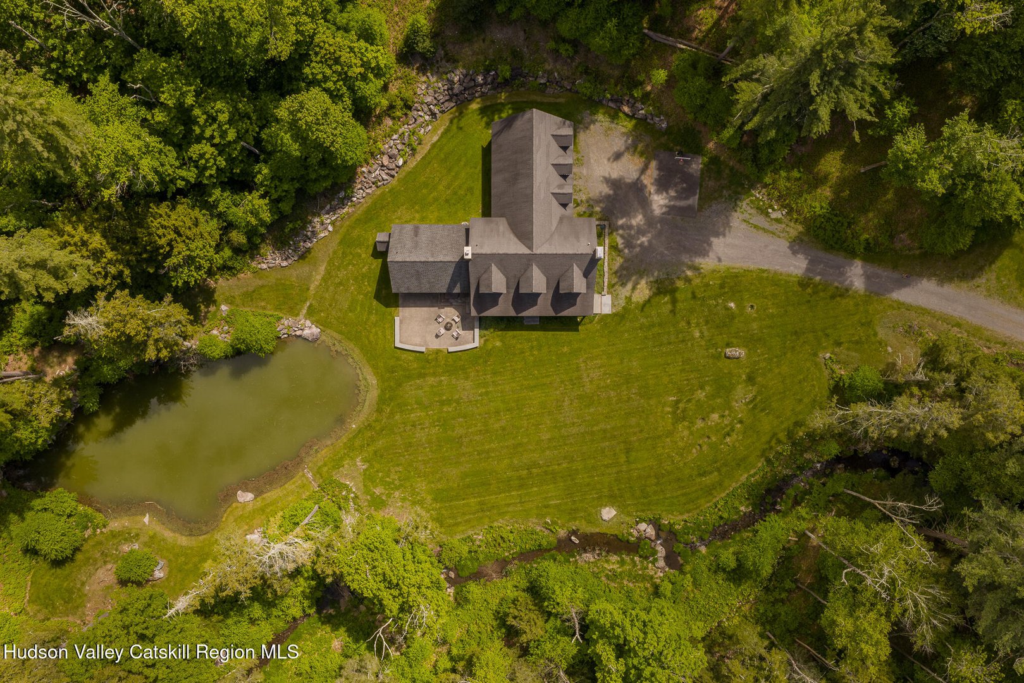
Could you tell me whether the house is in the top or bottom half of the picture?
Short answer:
top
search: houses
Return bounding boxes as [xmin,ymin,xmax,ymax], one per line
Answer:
[376,109,603,316]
